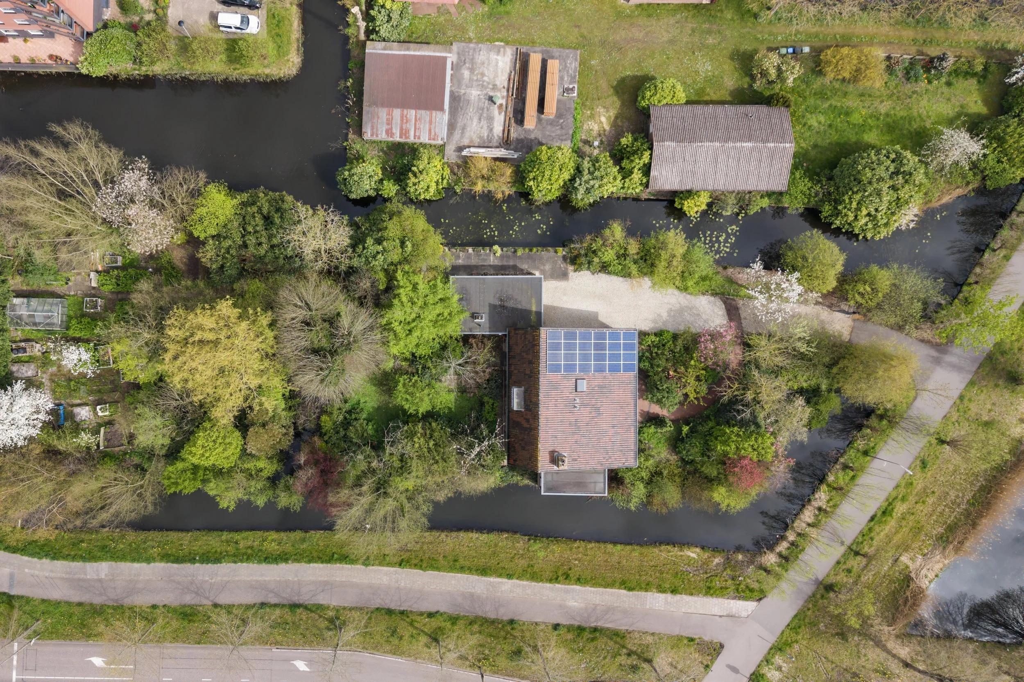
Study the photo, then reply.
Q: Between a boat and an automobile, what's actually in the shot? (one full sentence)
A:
I can see an automobile in this picture.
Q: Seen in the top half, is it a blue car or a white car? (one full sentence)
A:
Visible in the top half is a white car.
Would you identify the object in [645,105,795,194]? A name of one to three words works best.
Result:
shed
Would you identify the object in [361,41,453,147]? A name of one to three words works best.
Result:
barn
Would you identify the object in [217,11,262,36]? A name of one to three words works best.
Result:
car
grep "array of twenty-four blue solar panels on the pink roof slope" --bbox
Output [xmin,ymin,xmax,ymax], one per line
[548,330,637,373]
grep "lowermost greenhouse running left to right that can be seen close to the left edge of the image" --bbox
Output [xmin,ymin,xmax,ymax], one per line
[0,298,66,329]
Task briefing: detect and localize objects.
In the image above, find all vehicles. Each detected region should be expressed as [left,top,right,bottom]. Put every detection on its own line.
[219,0,263,15]
[217,11,262,36]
